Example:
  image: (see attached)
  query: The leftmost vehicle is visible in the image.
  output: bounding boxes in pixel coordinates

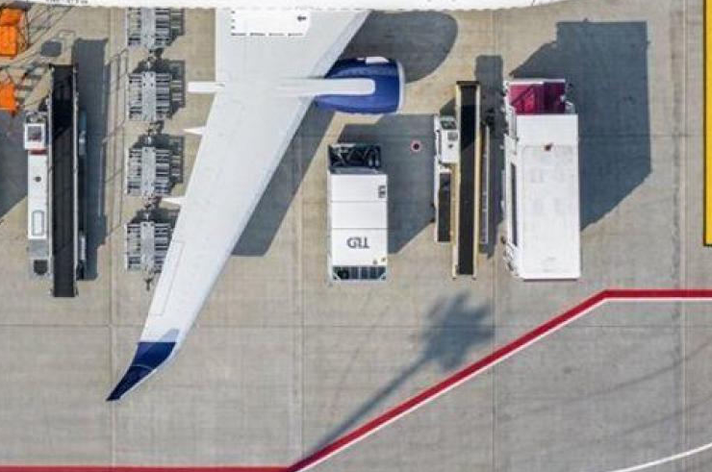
[25,62,88,300]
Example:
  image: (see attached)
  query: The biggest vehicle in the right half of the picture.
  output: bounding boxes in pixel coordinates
[490,71,579,280]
